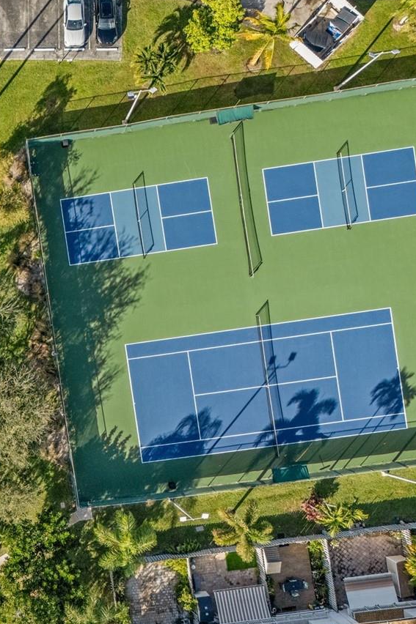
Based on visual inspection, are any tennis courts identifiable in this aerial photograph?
Yes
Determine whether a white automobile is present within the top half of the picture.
Yes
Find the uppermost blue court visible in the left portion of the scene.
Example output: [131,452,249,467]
[62,177,219,266]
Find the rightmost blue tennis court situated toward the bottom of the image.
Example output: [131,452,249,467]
[126,308,408,463]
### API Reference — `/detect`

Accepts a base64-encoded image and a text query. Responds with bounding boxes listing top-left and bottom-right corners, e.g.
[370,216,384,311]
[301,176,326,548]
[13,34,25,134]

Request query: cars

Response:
[95,0,123,46]
[62,0,89,47]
